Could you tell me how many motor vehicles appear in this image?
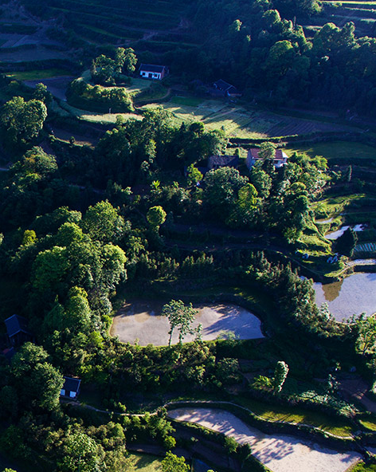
zero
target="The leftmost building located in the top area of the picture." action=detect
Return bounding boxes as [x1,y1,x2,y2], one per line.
[140,62,167,78]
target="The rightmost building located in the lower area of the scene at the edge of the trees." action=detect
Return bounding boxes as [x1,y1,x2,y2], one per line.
[61,378,82,396]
